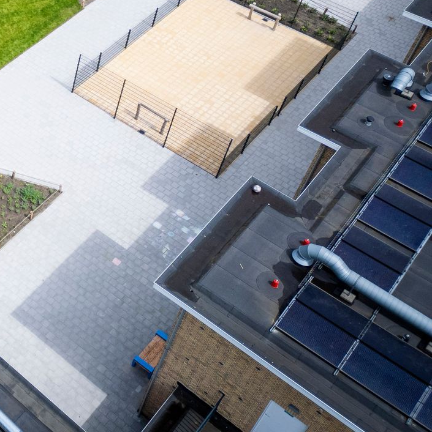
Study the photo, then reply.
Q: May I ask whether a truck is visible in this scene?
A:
No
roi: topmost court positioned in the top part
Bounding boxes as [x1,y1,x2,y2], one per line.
[74,0,334,173]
